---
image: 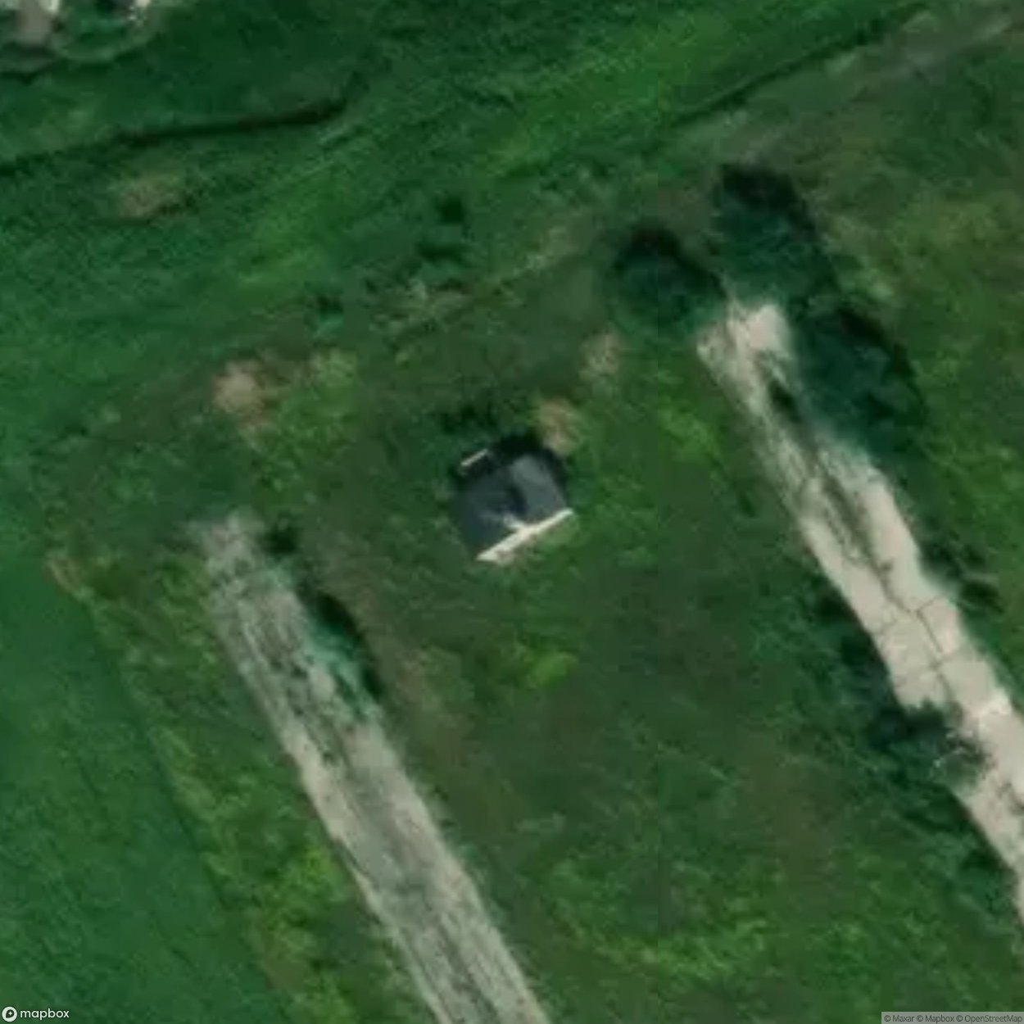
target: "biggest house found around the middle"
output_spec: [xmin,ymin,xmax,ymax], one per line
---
[445,450,569,560]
